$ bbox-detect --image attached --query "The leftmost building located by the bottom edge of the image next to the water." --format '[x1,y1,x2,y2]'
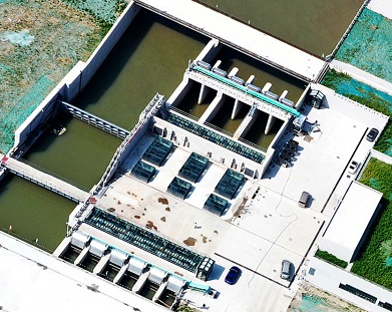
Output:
[66,222,196,302]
